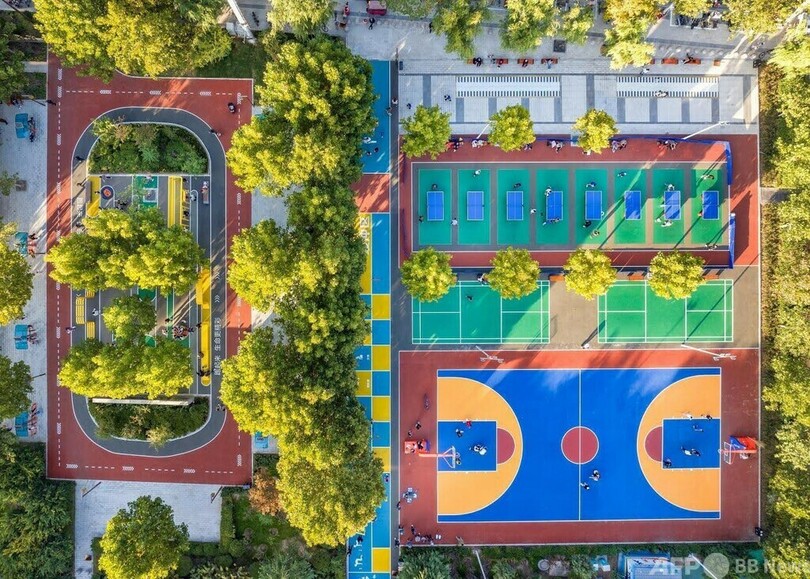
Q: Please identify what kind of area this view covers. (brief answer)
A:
sports ground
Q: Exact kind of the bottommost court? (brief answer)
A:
basketball court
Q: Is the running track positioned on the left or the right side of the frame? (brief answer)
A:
left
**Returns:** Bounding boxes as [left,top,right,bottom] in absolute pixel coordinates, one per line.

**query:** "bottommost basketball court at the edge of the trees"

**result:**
[391,348,758,547]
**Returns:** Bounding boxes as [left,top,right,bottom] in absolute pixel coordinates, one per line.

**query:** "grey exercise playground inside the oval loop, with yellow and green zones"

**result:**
[85,174,210,396]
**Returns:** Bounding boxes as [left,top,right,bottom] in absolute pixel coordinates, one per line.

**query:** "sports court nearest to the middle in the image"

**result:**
[412,281,551,344]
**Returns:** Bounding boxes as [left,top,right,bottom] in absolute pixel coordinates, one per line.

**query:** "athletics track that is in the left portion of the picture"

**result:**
[47,44,253,489]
